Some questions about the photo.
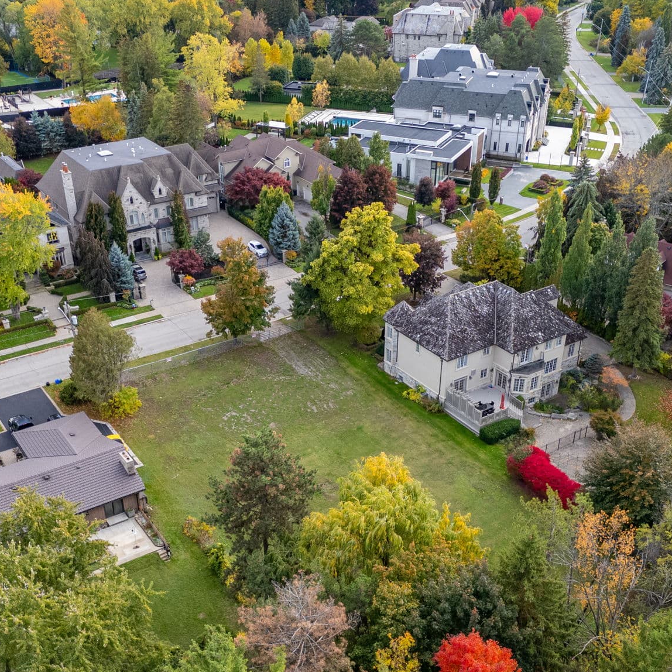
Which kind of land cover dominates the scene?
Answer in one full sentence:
The largest share of the image is taken up by trees.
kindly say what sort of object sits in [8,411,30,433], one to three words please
car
